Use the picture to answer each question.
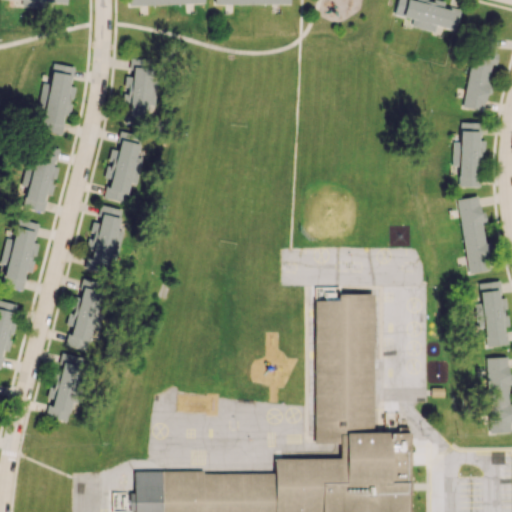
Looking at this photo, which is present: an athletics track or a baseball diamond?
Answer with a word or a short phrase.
baseball diamond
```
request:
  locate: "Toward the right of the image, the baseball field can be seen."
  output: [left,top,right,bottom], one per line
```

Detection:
[301,182,359,242]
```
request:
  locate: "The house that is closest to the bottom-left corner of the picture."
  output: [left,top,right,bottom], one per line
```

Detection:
[48,353,87,424]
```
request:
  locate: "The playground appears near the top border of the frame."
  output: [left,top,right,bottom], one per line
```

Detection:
[316,0,363,22]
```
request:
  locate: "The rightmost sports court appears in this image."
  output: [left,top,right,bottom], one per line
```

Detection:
[384,286,427,388]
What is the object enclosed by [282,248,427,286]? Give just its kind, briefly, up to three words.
sports court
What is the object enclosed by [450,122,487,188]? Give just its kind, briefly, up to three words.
house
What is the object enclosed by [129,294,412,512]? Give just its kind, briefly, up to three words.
building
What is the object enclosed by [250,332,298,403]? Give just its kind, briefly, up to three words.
playground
